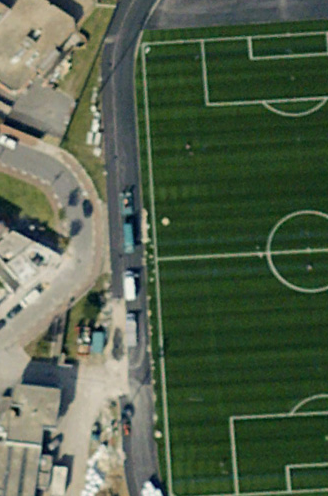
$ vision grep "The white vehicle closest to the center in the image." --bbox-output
[122,268,138,303]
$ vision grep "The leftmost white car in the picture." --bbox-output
[0,135,18,150]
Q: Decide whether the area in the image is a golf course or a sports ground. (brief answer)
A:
sports ground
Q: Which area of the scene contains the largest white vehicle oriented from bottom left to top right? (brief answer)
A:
left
